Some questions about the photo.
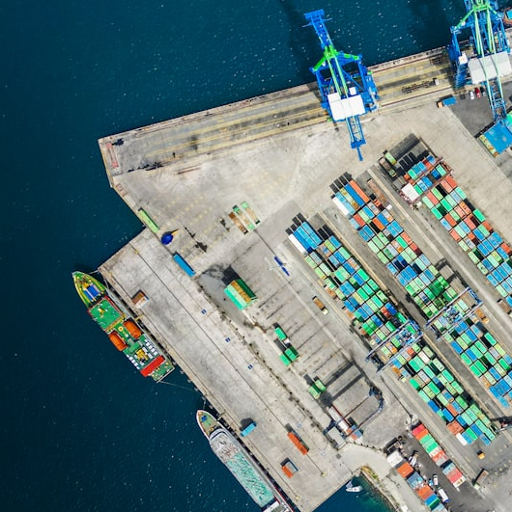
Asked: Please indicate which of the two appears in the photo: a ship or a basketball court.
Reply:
ship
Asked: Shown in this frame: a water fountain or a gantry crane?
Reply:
gantry crane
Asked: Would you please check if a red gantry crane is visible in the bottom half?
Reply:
No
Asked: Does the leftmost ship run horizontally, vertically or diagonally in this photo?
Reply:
diagonally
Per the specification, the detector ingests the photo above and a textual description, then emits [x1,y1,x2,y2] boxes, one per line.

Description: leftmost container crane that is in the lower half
[329,384,384,443]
